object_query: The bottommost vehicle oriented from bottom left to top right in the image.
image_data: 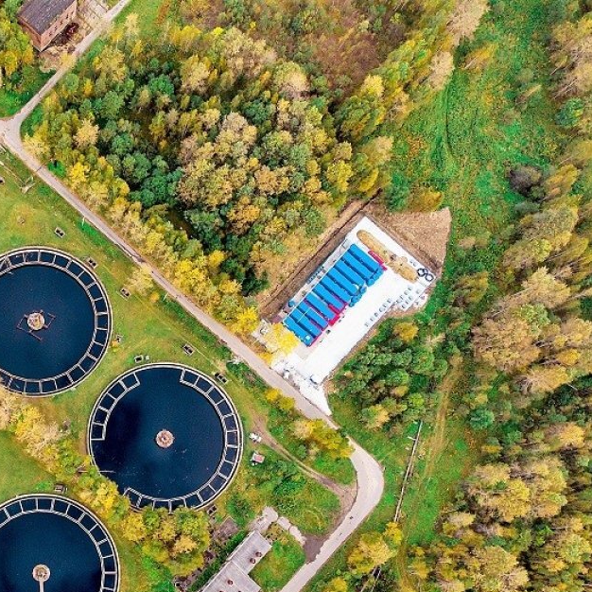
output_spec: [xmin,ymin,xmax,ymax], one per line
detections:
[306,369,325,387]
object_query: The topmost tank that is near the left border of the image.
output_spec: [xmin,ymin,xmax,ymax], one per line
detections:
[0,246,114,399]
